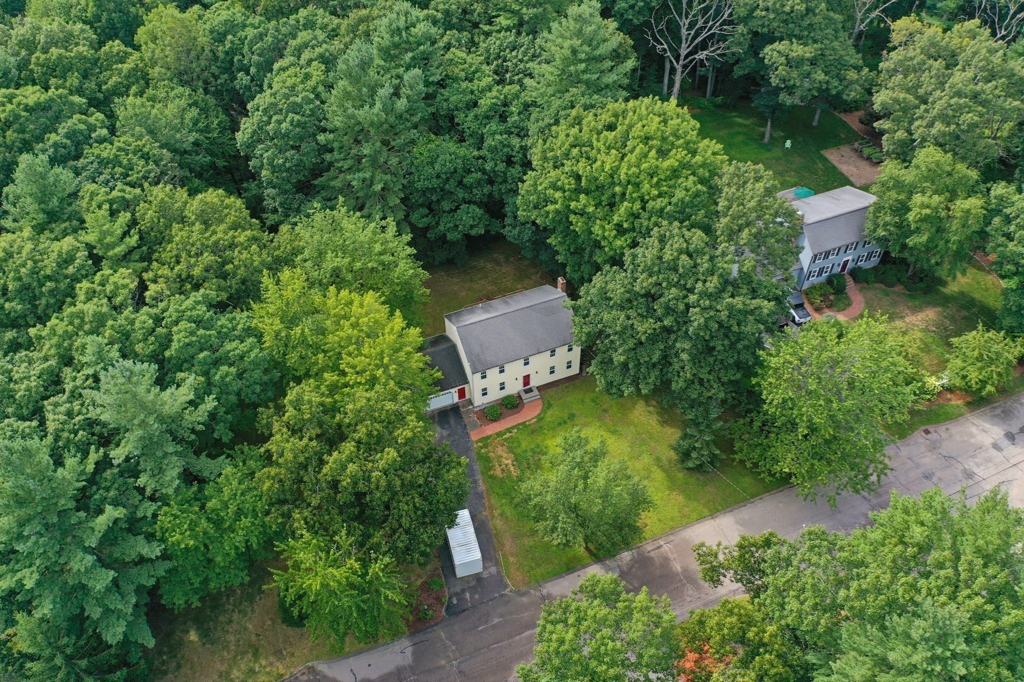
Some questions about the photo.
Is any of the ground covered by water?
No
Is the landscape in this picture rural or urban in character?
rural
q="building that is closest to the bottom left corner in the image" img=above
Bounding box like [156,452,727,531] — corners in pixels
[420,276,581,412]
